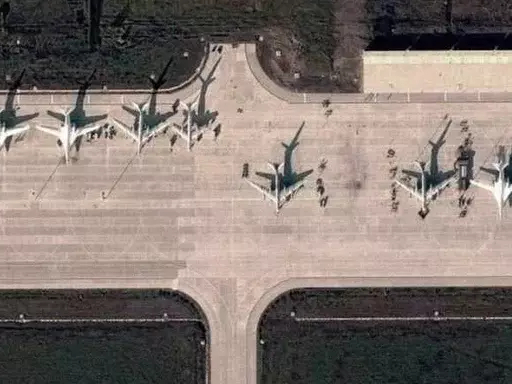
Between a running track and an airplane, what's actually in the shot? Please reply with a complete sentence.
The image shows an airplane.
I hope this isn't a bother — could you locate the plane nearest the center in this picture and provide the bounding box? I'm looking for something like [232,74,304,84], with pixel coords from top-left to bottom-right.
[249,154,307,206]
